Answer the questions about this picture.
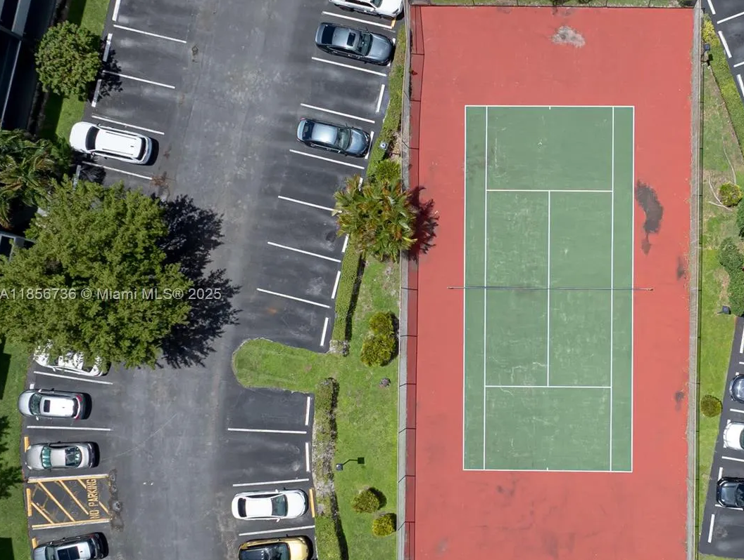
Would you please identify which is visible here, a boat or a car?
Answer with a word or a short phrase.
car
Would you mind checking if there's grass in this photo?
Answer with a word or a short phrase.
Yes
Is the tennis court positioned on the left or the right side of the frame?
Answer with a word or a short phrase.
right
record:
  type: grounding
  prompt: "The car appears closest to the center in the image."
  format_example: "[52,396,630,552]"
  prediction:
[297,116,370,158]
